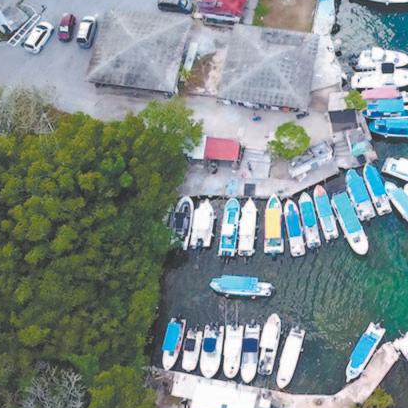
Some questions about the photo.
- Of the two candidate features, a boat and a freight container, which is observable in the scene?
boat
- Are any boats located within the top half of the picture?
Yes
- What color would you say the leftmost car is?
white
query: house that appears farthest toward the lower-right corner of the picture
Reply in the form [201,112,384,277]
[192,380,260,408]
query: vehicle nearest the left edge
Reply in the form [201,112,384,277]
[19,18,56,54]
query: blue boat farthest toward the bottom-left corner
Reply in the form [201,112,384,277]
[161,314,188,369]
